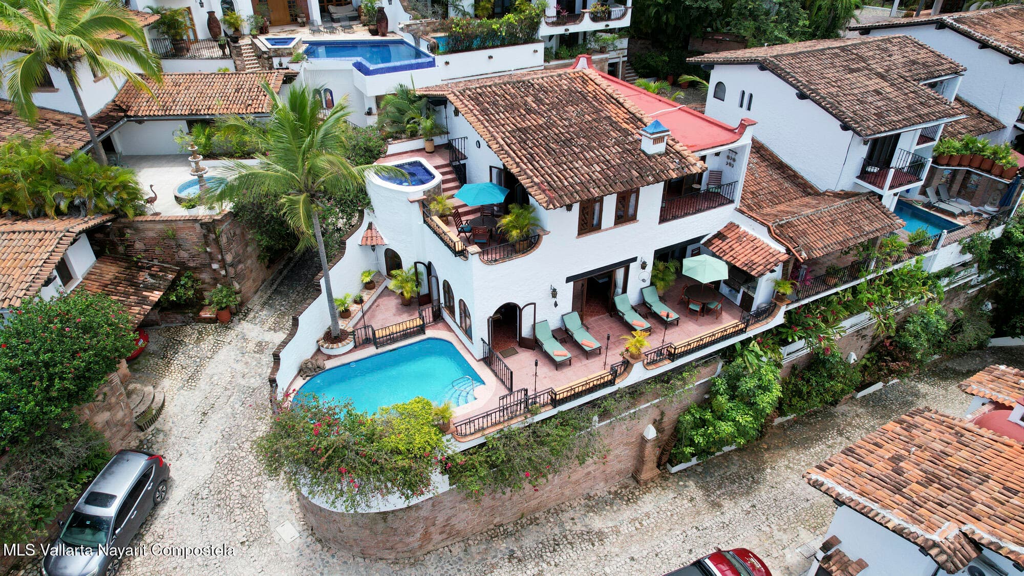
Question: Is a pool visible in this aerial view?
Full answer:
Yes, a pool is visible in the scene.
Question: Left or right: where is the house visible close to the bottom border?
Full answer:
The house visible close to the bottom border is on the right side of the image.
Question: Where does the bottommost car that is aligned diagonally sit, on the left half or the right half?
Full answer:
The bottommost car that is aligned diagonally sits on the left side.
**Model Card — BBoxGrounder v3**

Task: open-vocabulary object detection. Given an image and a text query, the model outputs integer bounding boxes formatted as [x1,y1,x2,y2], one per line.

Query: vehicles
[33,459,162,576]
[671,544,770,576]
[123,316,154,345]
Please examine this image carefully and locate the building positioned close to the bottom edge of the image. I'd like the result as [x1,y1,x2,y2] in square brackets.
[802,404,1024,576]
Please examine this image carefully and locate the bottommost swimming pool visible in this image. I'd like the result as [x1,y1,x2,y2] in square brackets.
[285,329,501,442]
